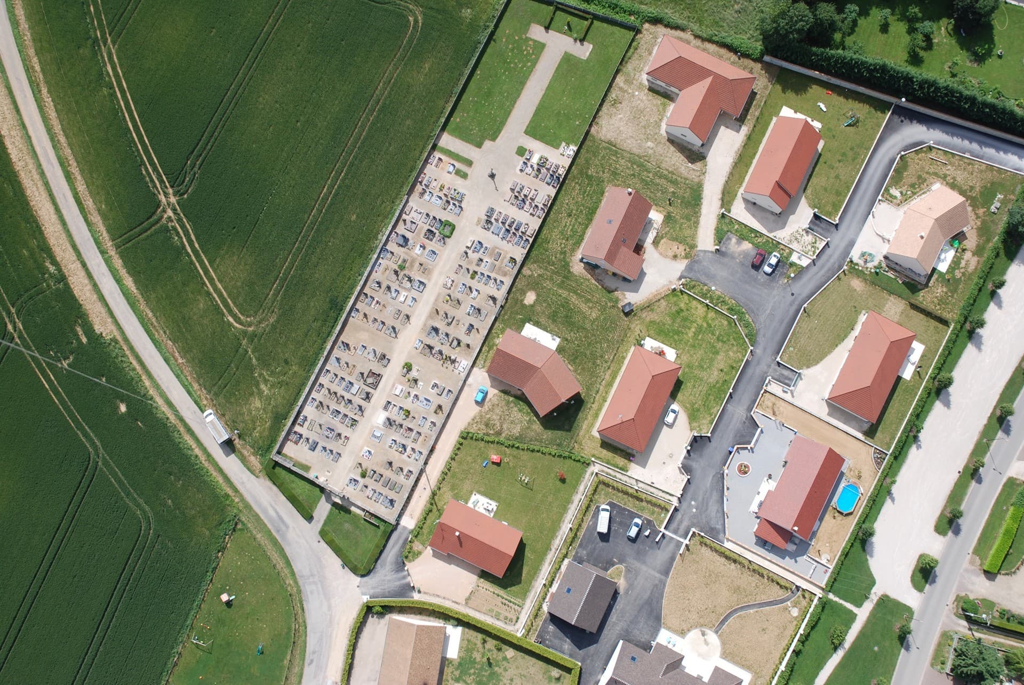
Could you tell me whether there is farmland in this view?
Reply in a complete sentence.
Yes, farmland shows up in the scene.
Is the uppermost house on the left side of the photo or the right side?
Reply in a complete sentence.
It is on the right.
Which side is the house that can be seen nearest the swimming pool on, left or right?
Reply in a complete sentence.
It is on the right.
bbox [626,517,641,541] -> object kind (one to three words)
car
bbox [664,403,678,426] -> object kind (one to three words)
car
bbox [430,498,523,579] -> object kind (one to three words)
house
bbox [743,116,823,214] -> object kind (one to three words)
house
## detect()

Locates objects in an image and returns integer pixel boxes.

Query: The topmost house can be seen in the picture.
[645,35,757,148]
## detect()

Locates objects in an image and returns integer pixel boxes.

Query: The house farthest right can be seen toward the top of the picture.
[883,185,970,274]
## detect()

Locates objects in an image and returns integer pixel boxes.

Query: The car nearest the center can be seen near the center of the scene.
[474,385,487,405]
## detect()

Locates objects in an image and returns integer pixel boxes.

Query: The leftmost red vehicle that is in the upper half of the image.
[751,250,764,269]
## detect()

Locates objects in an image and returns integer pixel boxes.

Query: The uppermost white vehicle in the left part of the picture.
[204,409,230,445]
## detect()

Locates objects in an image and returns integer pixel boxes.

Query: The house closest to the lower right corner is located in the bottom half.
[753,435,846,550]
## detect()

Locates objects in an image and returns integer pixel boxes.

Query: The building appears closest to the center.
[487,329,581,416]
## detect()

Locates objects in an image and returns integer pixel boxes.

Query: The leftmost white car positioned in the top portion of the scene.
[763,251,780,274]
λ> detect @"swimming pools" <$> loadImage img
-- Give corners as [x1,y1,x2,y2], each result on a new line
[834,482,865,514]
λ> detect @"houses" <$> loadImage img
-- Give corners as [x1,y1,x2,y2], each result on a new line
[487,329,581,416]
[597,346,683,454]
[753,435,846,550]
[883,185,970,274]
[430,498,523,579]
[743,116,823,214]
[378,616,447,685]
[824,310,919,427]
[601,640,744,685]
[582,186,654,279]
[645,35,757,148]
[547,561,617,634]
